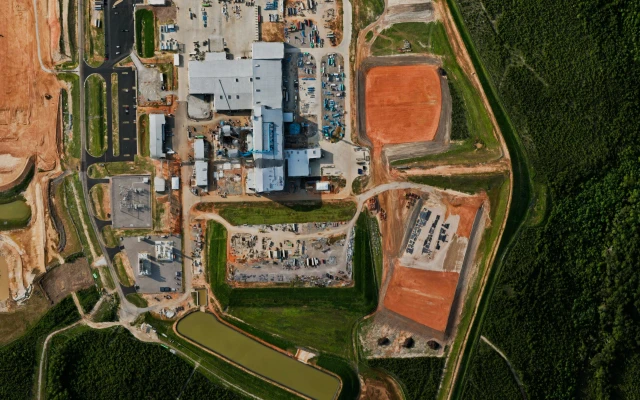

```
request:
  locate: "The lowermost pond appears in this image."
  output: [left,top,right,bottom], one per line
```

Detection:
[177,310,339,400]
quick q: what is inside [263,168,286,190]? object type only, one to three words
building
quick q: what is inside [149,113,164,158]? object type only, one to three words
building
